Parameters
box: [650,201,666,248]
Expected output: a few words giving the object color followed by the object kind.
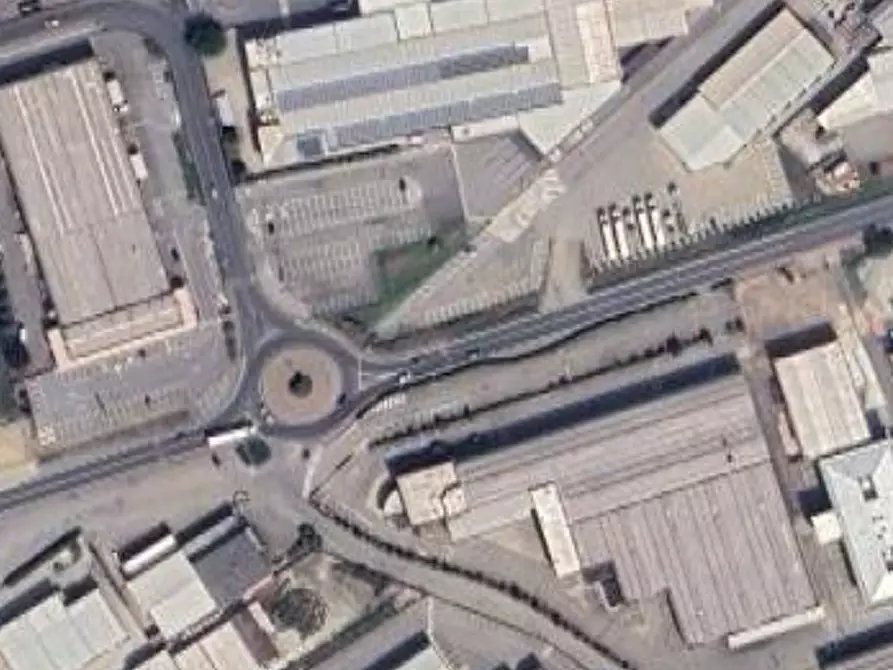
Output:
white vehicle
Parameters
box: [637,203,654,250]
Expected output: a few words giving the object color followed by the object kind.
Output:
white vehicle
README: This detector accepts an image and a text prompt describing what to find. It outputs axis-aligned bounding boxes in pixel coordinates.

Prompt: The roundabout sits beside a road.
[245,328,358,442]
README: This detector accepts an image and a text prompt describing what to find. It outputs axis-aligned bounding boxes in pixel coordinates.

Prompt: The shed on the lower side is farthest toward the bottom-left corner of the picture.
[0,587,134,670]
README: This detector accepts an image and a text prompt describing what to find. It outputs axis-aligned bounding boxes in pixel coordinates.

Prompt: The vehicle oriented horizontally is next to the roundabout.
[207,425,255,444]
